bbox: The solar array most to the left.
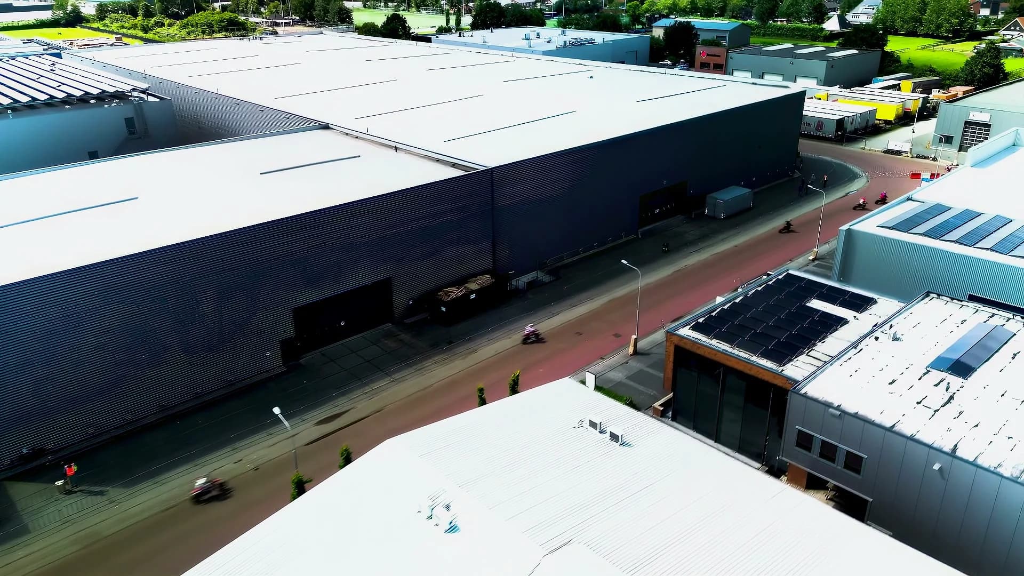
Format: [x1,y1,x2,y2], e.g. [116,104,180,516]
[692,273,876,367]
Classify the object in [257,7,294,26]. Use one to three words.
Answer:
building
